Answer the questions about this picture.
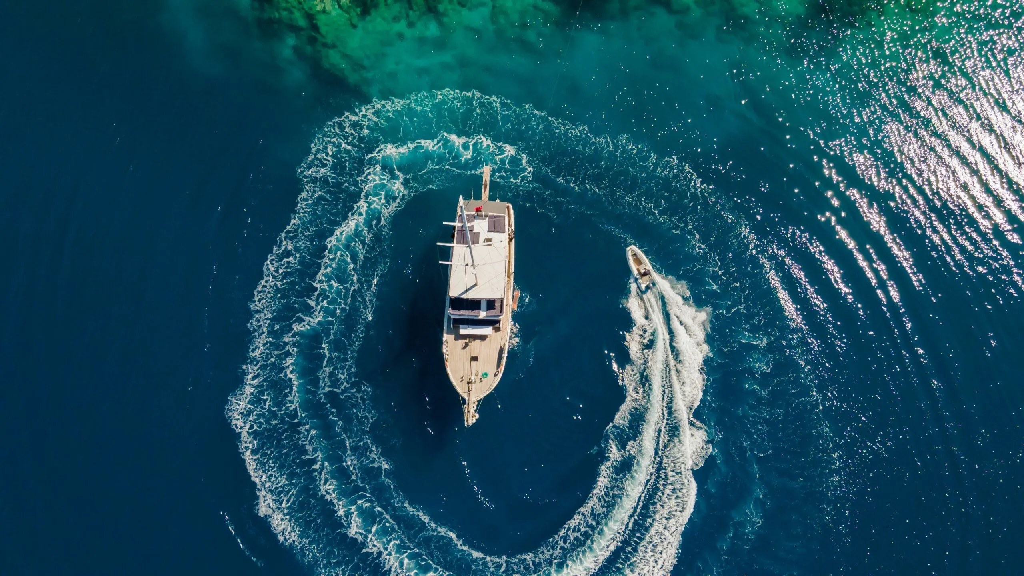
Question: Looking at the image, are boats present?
Yes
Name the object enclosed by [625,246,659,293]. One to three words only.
boat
